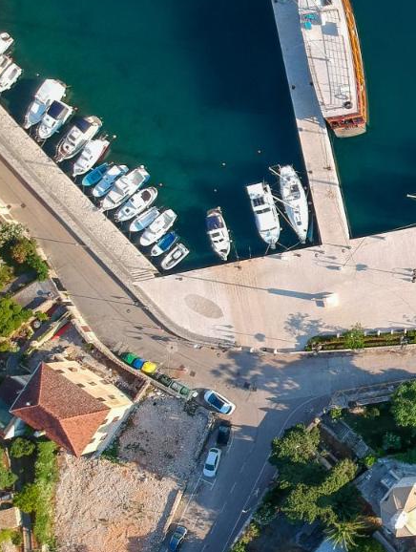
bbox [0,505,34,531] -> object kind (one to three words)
shed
